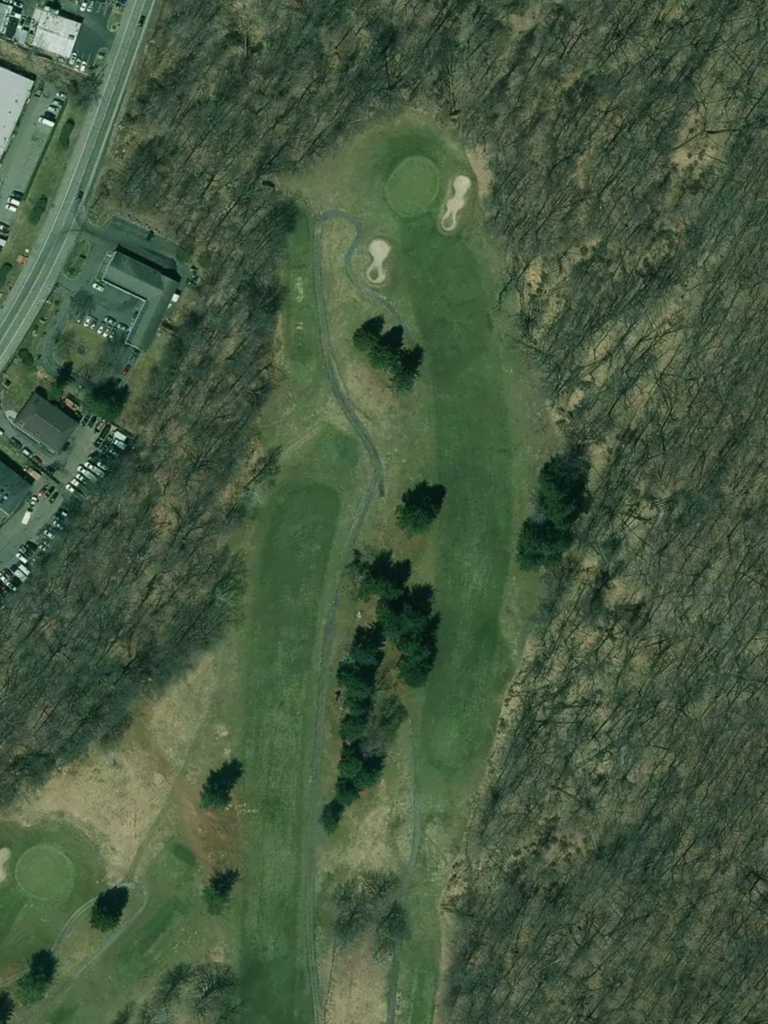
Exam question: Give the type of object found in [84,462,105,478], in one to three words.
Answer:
vehicle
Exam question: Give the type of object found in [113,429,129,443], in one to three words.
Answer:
vehicle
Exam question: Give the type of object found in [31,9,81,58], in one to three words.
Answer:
building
